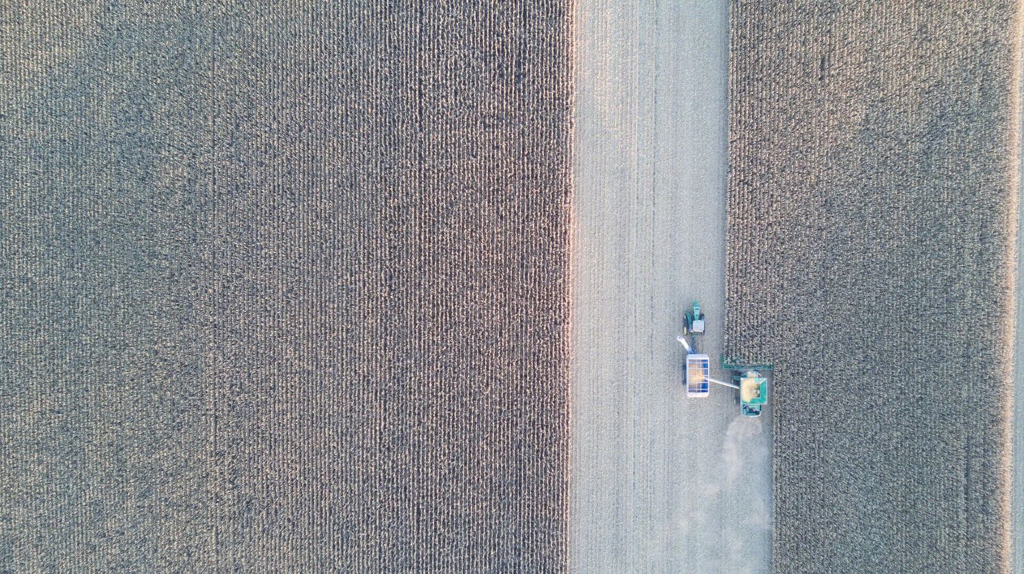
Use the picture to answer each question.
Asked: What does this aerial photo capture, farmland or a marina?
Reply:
farmland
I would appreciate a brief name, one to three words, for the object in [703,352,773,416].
work vehicle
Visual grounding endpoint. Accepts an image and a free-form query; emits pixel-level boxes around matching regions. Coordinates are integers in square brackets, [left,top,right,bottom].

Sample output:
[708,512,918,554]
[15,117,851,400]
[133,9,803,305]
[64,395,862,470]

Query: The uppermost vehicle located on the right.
[683,300,705,337]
